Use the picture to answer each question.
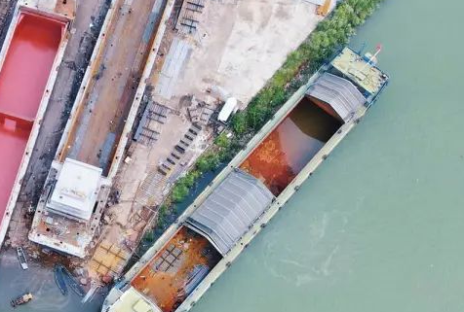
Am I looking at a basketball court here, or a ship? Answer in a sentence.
Visible in the photo is a ship.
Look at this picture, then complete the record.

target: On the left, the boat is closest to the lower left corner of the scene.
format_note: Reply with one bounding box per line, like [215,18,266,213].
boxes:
[6,292,36,310]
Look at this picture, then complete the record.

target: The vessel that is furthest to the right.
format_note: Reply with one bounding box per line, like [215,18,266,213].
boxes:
[104,36,396,312]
